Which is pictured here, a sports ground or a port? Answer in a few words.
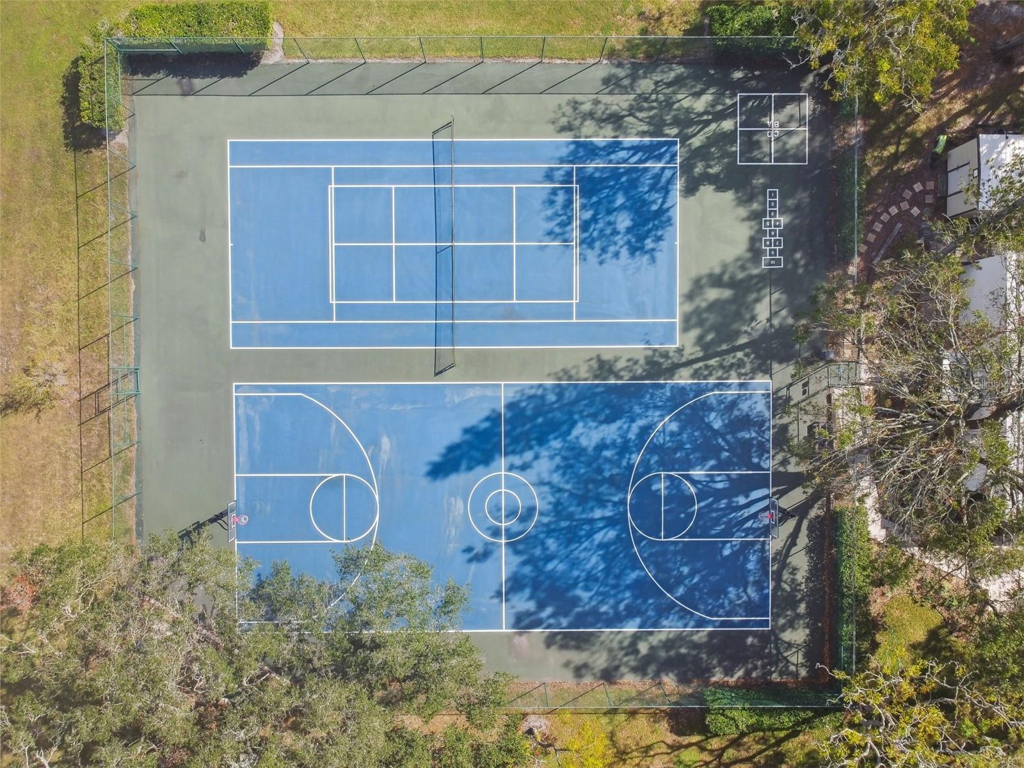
sports ground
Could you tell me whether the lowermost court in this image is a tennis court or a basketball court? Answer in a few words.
basketball court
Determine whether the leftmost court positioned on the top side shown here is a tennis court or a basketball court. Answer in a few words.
tennis court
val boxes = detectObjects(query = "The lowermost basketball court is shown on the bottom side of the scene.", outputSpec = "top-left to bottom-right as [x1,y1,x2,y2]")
[233,381,771,632]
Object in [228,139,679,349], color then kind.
blue tennis court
